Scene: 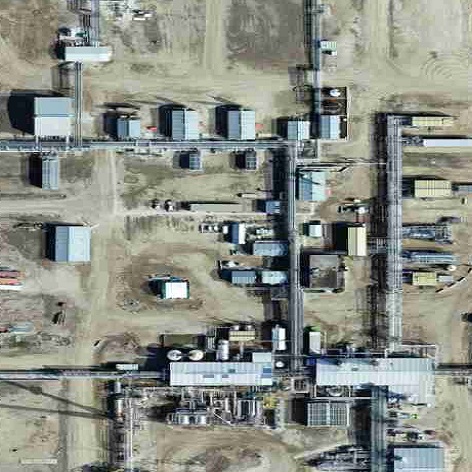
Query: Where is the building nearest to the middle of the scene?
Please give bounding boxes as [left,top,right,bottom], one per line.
[231,223,247,244]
